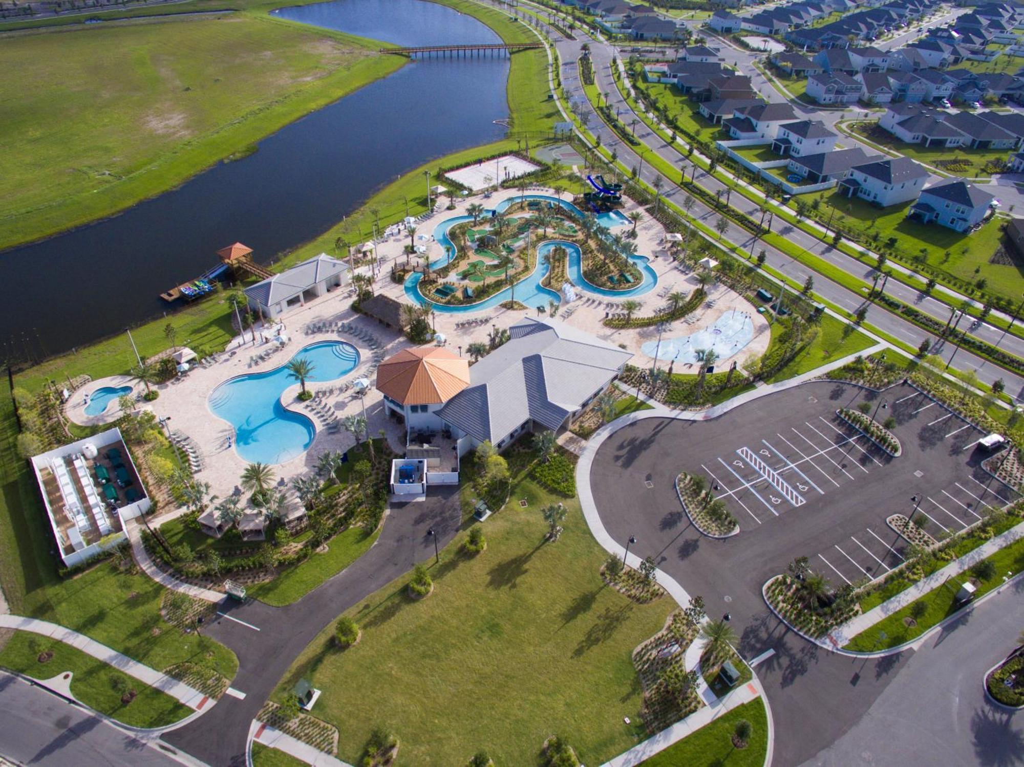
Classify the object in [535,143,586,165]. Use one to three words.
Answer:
basketball court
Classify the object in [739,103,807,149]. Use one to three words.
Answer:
house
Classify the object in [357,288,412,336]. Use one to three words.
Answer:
shed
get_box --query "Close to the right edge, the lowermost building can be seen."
[988,215,1024,255]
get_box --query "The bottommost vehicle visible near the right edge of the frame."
[978,430,1011,454]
